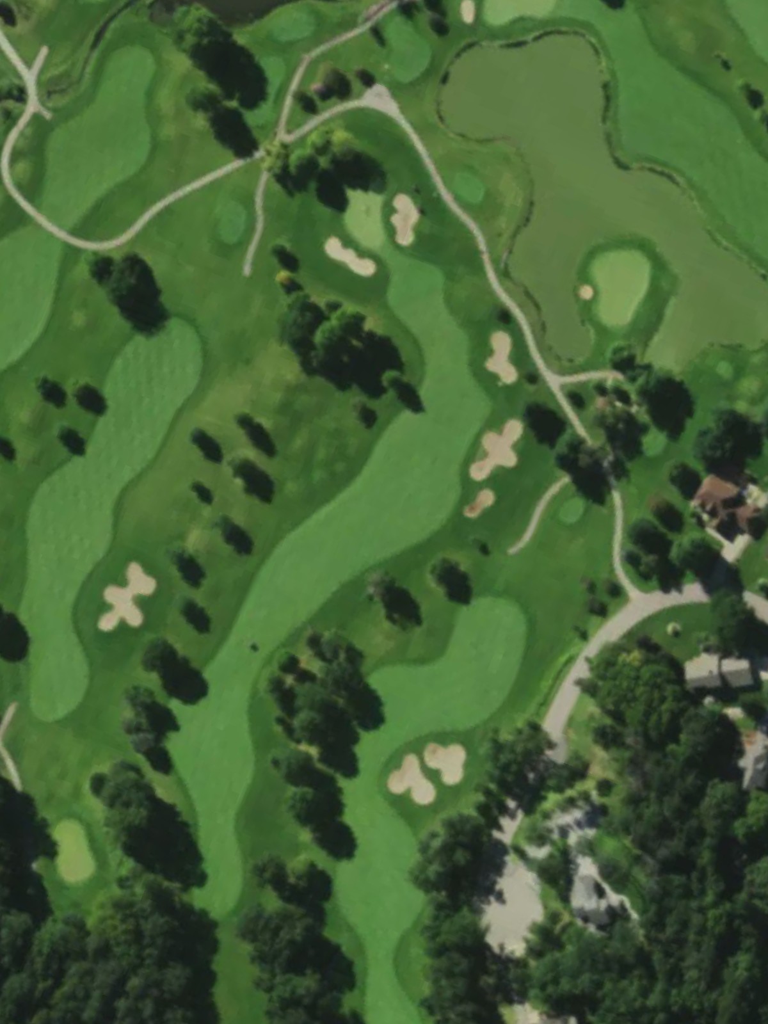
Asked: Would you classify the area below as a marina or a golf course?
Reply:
golf course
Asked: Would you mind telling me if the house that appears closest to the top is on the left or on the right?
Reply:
right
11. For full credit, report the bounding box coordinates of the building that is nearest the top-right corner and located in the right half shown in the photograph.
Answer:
[693,473,752,535]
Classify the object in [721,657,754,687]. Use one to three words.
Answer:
building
